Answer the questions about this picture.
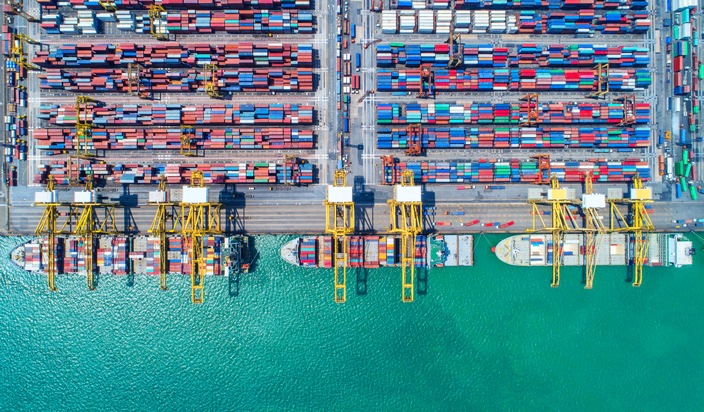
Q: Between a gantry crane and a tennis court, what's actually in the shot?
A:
gantry crane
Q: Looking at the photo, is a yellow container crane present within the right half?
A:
Yes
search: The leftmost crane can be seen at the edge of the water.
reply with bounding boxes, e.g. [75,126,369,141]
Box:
[33,176,90,292]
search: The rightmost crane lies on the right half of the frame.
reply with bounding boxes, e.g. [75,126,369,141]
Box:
[602,179,657,289]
